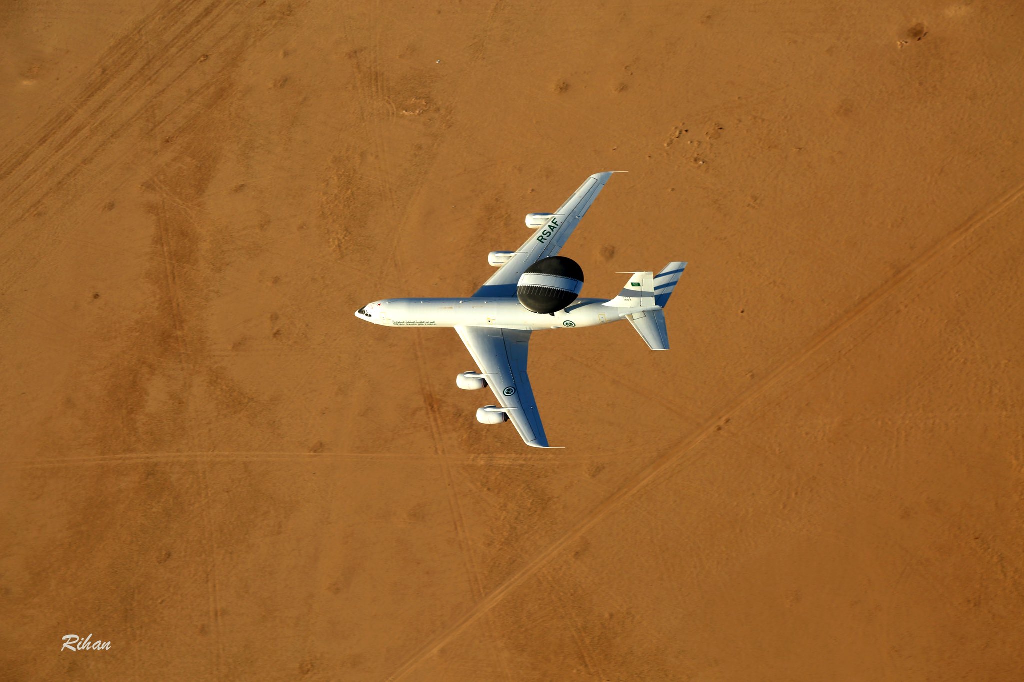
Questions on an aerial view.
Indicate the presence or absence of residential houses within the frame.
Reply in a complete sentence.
No, I find no residential house anywhere in the image.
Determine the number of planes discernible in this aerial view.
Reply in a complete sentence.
I count 1 plane.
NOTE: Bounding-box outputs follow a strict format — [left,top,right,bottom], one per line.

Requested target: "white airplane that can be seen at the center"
[355,172,689,448]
